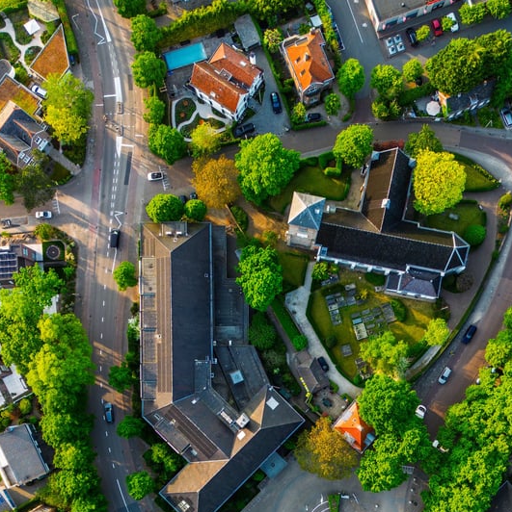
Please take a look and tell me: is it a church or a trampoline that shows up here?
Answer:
church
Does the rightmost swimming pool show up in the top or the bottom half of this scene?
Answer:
top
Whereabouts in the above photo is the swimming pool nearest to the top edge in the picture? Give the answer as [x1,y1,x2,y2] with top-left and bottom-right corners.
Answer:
[166,44,205,66]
